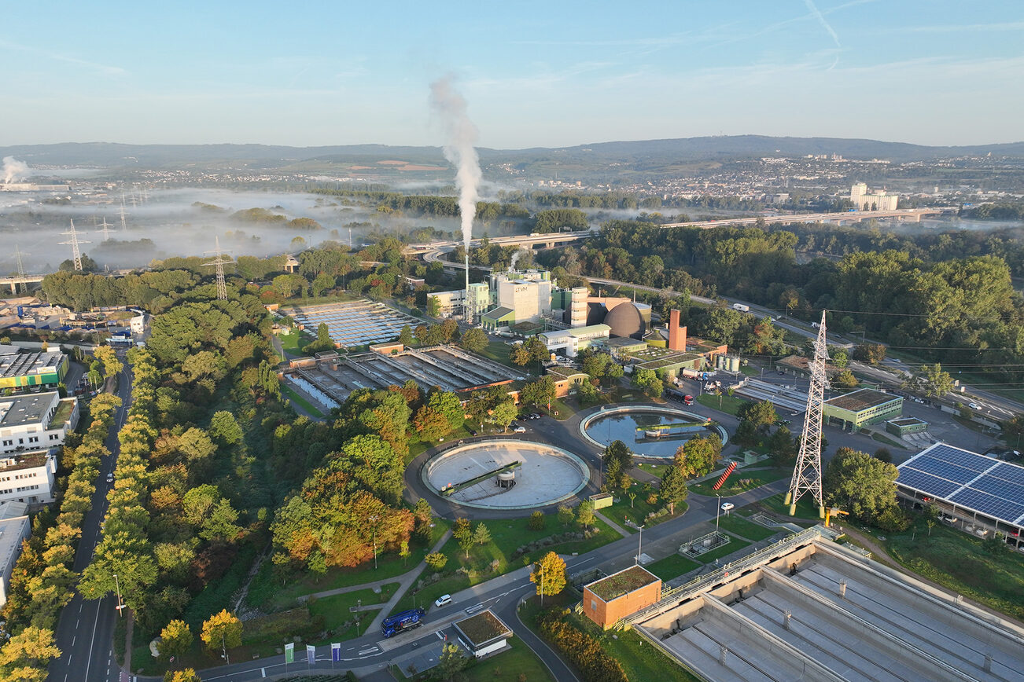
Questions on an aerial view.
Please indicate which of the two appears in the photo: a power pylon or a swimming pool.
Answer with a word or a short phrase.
power pylon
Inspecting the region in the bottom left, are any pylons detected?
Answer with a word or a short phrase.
No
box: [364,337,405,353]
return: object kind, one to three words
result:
house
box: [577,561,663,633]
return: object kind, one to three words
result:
building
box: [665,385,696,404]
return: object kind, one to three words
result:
vehicle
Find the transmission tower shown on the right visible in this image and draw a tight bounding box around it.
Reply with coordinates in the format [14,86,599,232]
[786,311,843,518]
